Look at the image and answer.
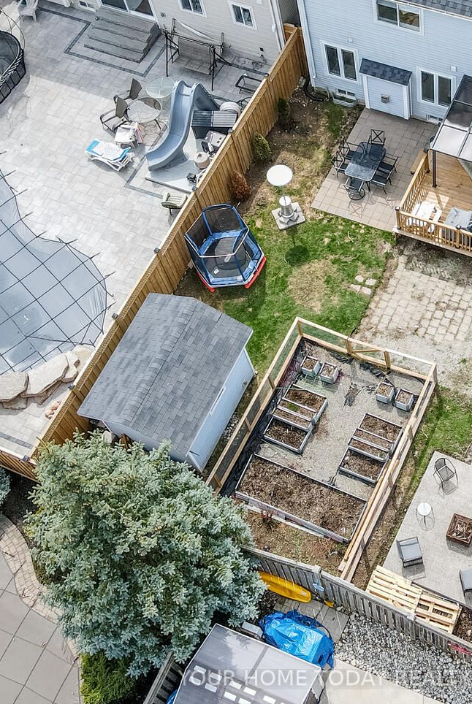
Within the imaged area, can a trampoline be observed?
Yes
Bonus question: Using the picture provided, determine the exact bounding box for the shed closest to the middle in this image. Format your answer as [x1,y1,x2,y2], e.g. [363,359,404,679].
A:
[80,298,255,469]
